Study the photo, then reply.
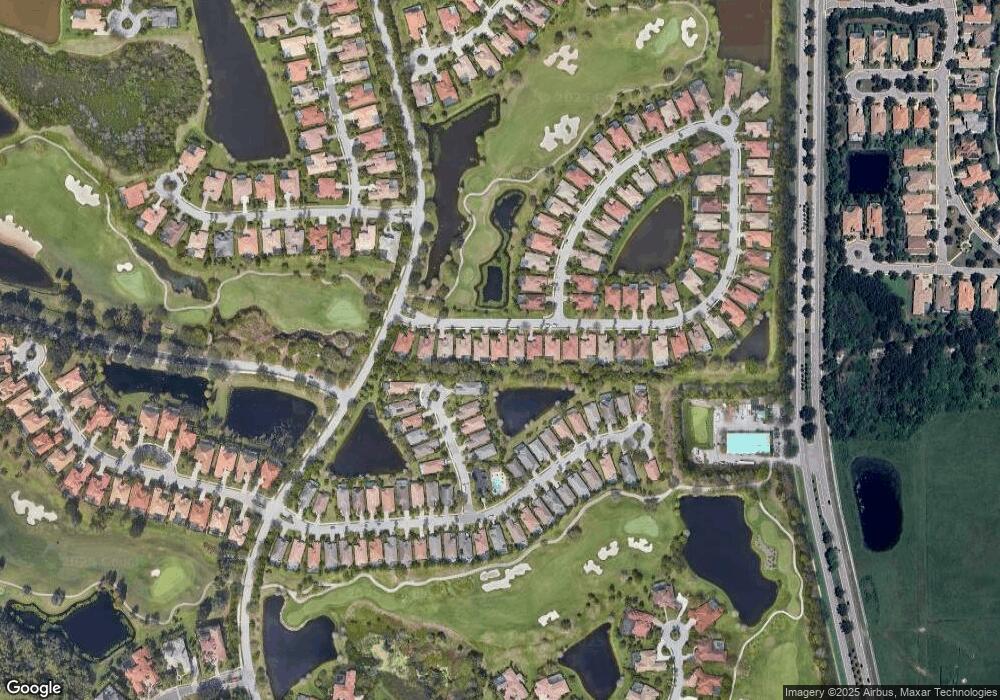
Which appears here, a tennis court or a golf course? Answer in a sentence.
Visible in the photo is a golf course.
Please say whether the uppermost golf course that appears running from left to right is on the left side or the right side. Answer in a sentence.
The uppermost golf course that appears running from left to right is on the left side of the image.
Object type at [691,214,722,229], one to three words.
house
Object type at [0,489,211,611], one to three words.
golf course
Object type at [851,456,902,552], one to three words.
pond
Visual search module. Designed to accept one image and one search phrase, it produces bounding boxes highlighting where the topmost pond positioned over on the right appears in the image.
[716,0,776,74]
